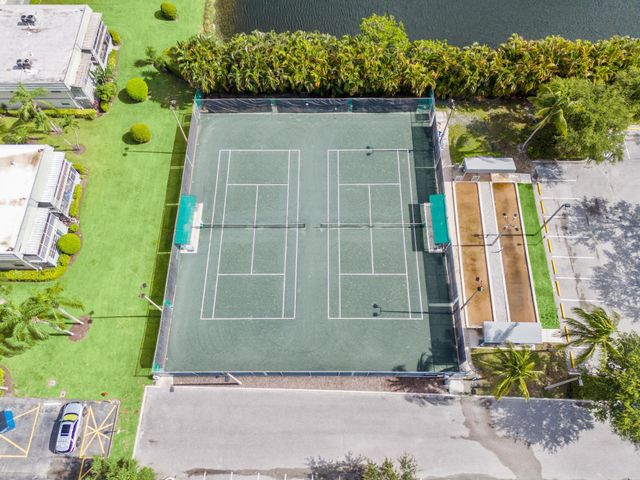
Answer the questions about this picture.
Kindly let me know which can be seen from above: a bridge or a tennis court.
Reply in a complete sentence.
There is a tennis court in the scene.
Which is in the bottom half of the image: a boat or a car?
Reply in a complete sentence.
The one visible in the bottom half of the image is a car.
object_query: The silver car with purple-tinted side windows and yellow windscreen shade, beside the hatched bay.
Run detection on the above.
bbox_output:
[52,403,84,452]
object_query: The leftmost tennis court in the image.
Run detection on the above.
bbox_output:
[166,112,314,375]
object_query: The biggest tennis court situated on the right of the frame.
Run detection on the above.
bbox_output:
[311,112,461,376]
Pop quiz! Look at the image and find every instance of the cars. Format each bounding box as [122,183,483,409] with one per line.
[0,414,16,435]
[52,403,84,452]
